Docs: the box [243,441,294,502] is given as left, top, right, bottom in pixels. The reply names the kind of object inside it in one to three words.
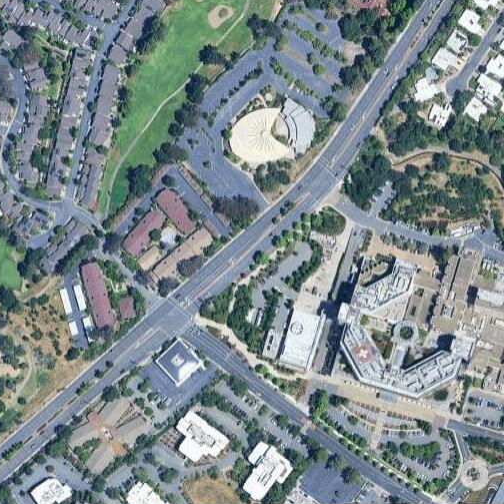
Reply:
building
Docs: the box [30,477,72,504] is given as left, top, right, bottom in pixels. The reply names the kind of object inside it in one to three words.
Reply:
building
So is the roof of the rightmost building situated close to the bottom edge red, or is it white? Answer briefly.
white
